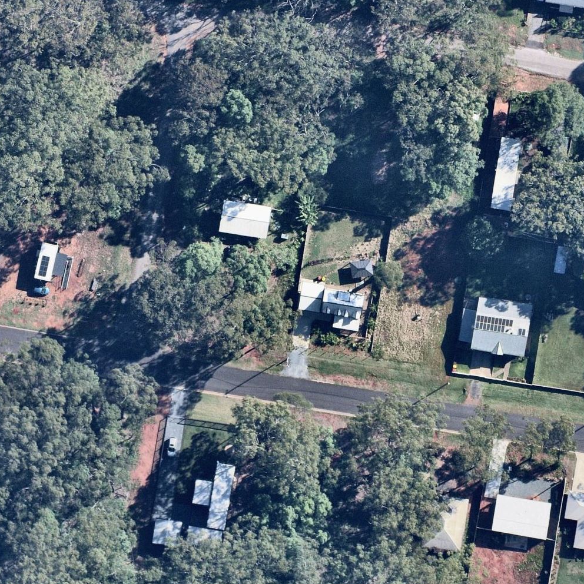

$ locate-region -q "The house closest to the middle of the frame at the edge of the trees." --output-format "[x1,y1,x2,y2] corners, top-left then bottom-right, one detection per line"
[298,282,364,331]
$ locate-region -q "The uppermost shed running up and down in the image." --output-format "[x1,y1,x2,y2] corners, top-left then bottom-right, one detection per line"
[491,137,521,211]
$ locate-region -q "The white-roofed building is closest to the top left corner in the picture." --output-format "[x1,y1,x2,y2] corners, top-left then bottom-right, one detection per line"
[34,242,59,283]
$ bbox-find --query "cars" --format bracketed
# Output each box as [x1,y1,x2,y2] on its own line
[168,437,178,457]
[33,287,51,296]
